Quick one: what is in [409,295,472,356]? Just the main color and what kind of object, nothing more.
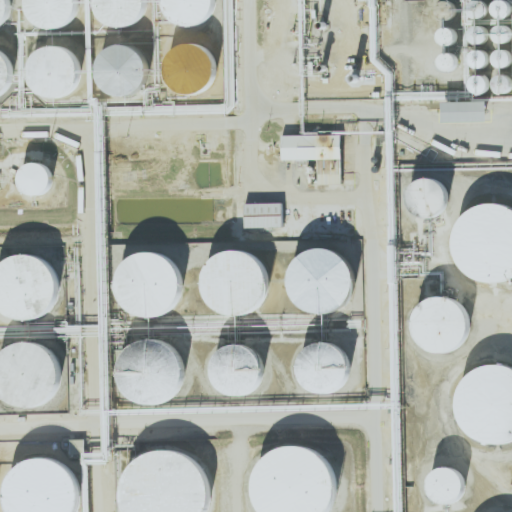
white storage tank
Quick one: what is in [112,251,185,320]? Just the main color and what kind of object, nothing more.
white storage tank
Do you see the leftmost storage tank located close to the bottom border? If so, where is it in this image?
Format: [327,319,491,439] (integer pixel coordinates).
[2,456,82,512]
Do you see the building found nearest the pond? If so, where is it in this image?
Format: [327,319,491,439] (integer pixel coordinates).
[243,204,282,229]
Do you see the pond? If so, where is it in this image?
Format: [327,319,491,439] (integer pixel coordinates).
[115,198,216,224]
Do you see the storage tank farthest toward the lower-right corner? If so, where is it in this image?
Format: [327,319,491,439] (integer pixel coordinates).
[424,466,468,506]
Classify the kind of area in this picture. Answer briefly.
industrial area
